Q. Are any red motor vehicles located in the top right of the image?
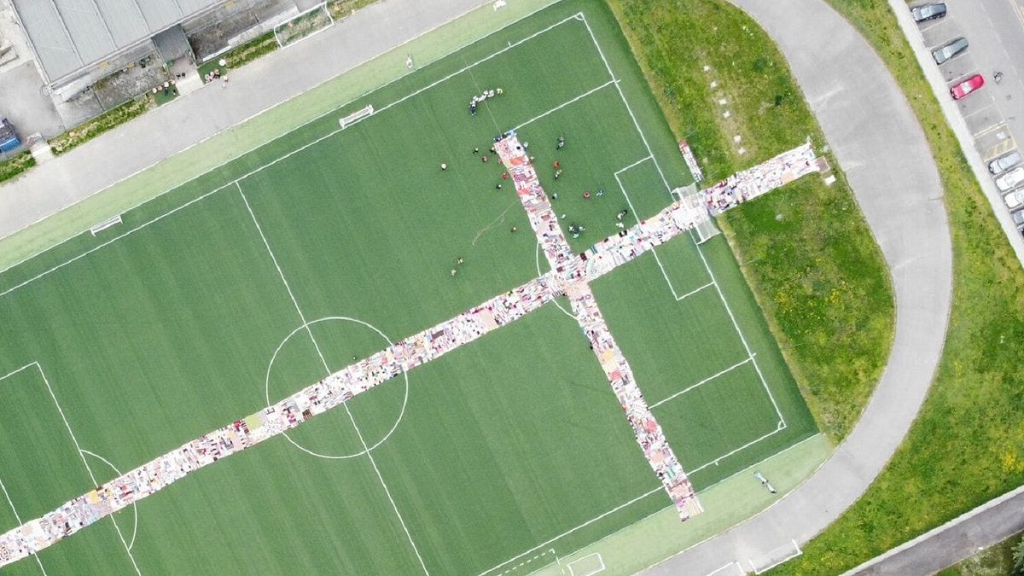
Yes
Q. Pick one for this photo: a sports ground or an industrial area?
sports ground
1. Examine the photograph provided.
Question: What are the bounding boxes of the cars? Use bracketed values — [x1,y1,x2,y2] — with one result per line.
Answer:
[990,147,1024,173]
[914,0,952,23]
[952,71,988,96]
[1014,207,1024,223]
[997,165,1024,189]
[1005,185,1024,206]
[935,36,971,61]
